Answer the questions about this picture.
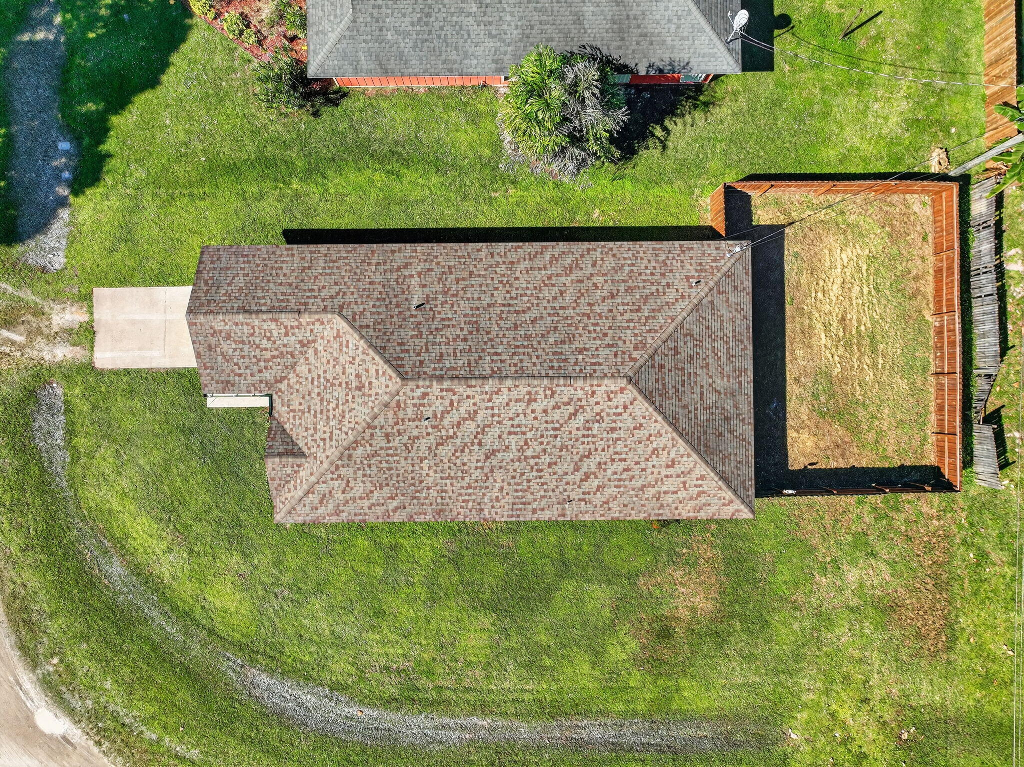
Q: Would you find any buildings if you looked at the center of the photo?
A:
Yes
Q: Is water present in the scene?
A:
No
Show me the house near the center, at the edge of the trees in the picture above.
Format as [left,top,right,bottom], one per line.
[187,242,754,524]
